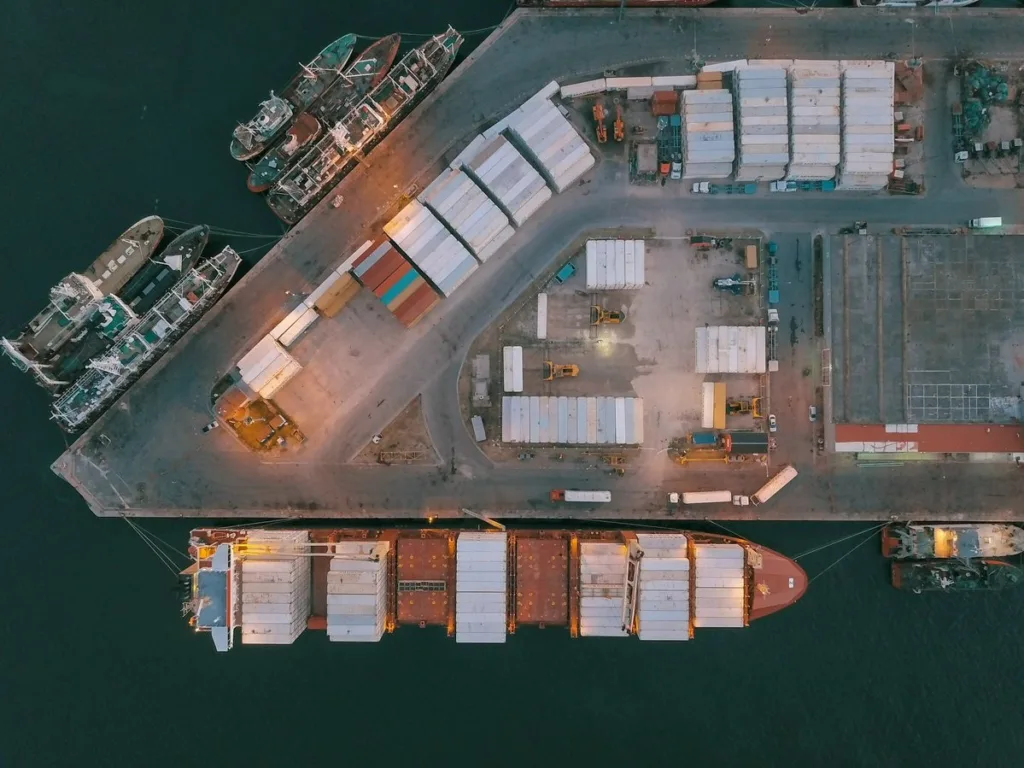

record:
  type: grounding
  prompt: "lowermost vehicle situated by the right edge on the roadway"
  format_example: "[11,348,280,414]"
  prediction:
[967,215,1006,228]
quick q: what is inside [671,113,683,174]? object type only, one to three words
vehicle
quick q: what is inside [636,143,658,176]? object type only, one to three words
shed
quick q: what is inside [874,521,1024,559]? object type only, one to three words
boat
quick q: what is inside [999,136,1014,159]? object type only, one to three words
vehicle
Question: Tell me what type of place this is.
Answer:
port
